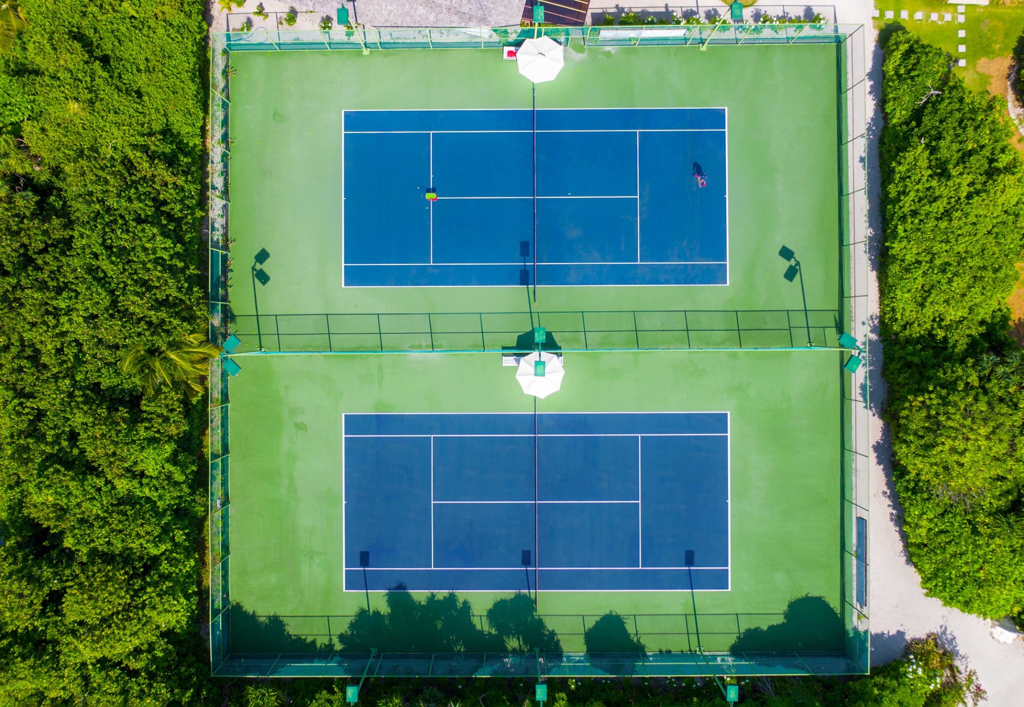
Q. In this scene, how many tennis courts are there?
2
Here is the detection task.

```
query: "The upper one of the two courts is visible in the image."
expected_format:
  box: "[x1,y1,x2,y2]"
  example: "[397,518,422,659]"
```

[228,35,851,350]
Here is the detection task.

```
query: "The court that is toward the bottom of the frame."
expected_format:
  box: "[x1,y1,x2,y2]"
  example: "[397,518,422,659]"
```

[228,350,852,657]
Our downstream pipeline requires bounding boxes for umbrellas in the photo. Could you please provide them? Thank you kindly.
[516,352,565,400]
[517,35,564,84]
